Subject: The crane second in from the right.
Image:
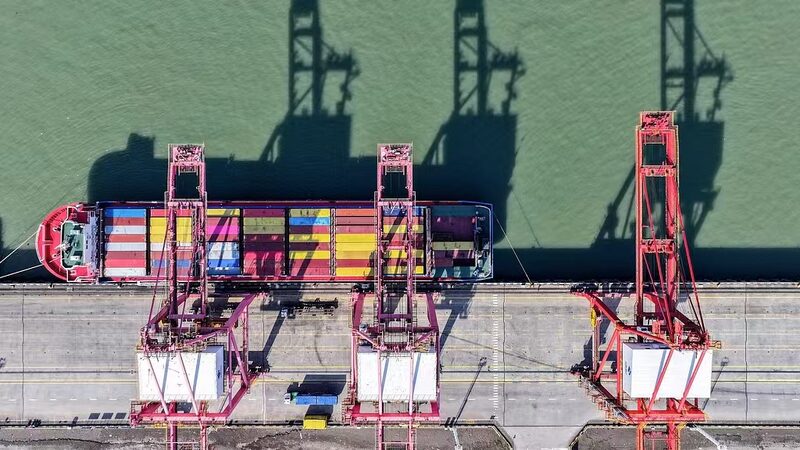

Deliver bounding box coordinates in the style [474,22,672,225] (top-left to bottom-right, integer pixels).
[344,142,443,450]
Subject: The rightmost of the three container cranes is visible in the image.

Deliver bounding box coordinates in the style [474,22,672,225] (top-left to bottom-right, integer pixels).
[570,109,725,450]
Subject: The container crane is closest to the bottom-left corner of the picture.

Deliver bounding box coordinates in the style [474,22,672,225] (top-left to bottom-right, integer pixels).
[126,144,268,450]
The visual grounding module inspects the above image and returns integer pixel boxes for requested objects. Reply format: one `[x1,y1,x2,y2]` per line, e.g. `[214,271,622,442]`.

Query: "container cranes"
[344,142,443,450]
[126,144,268,450]
[570,109,725,450]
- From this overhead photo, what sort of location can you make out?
port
